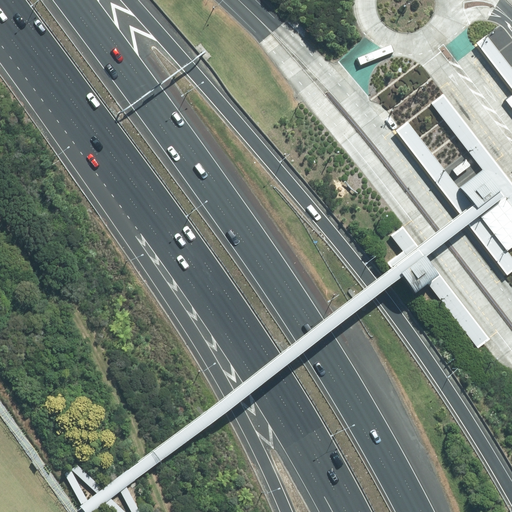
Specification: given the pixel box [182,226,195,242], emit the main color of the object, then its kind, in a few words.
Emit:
white vehicle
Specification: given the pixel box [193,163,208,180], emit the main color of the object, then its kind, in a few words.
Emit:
white vehicle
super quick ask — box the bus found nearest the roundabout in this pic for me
[356,46,393,66]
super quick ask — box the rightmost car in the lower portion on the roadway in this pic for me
[369,428,382,444]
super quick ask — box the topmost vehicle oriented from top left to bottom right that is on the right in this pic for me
[305,204,322,222]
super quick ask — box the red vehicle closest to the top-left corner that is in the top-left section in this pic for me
[110,47,124,63]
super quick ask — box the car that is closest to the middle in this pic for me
[226,230,240,245]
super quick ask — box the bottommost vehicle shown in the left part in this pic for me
[176,255,190,270]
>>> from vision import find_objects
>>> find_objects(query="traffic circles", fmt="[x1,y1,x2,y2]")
[357,0,452,52]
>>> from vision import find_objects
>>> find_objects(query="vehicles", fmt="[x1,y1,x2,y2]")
[90,136,104,150]
[226,230,240,245]
[369,428,382,444]
[86,153,99,167]
[171,111,184,126]
[86,92,100,108]
[193,163,208,180]
[182,226,195,242]
[330,452,344,469]
[110,47,124,63]
[12,13,26,29]
[104,63,118,79]
[176,255,190,270]
[313,361,326,377]
[326,469,340,484]
[166,146,180,161]
[32,18,46,34]
[0,9,8,23]
[356,46,393,66]
[174,232,187,248]
[305,204,322,222]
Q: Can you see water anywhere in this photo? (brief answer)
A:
No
